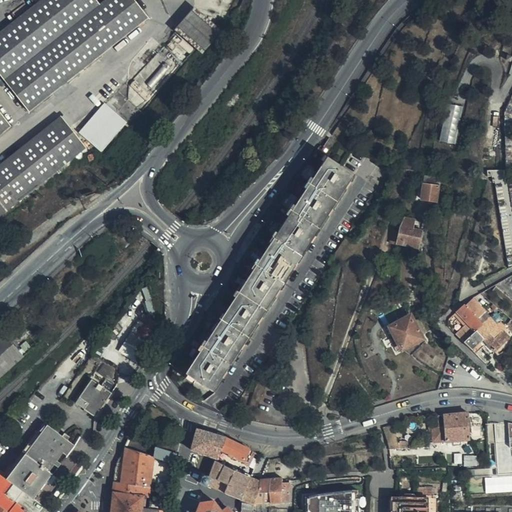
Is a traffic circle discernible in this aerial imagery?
Yes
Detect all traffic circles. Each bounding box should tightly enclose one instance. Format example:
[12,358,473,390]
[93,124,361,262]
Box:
[168,227,237,296]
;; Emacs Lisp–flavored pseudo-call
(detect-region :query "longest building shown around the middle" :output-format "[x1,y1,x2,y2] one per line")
[186,157,355,392]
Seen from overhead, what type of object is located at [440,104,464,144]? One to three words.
greenhouse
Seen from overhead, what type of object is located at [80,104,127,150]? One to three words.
building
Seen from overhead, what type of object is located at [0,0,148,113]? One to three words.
building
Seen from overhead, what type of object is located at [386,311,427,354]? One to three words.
house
